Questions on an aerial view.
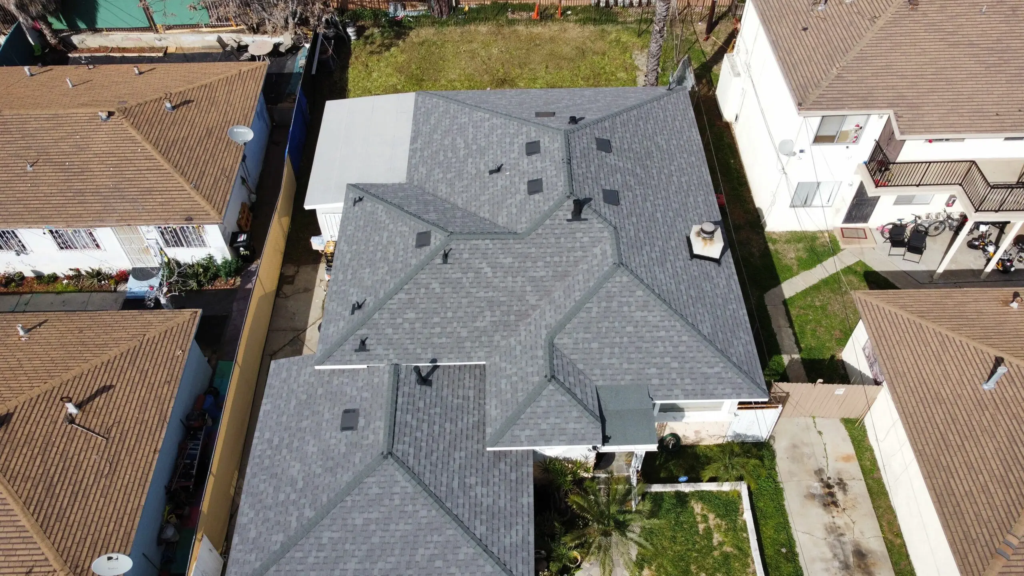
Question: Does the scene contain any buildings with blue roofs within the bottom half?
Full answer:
No, no building with a blue roof can be made out within the bottom half.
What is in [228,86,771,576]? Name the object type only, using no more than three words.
house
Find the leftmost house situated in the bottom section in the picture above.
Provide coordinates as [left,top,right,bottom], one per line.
[0,308,214,576]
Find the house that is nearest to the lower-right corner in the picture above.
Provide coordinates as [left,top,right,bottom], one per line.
[841,287,1024,576]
